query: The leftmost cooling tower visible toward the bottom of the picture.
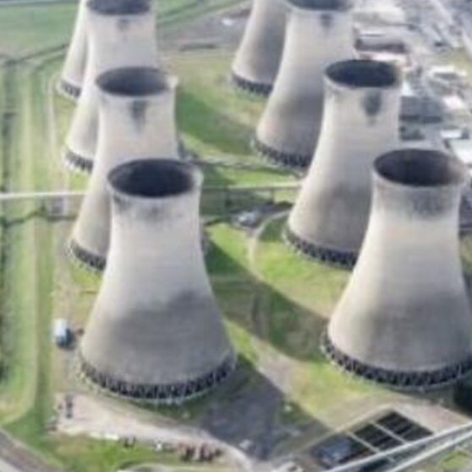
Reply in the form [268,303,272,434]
[77,157,241,412]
